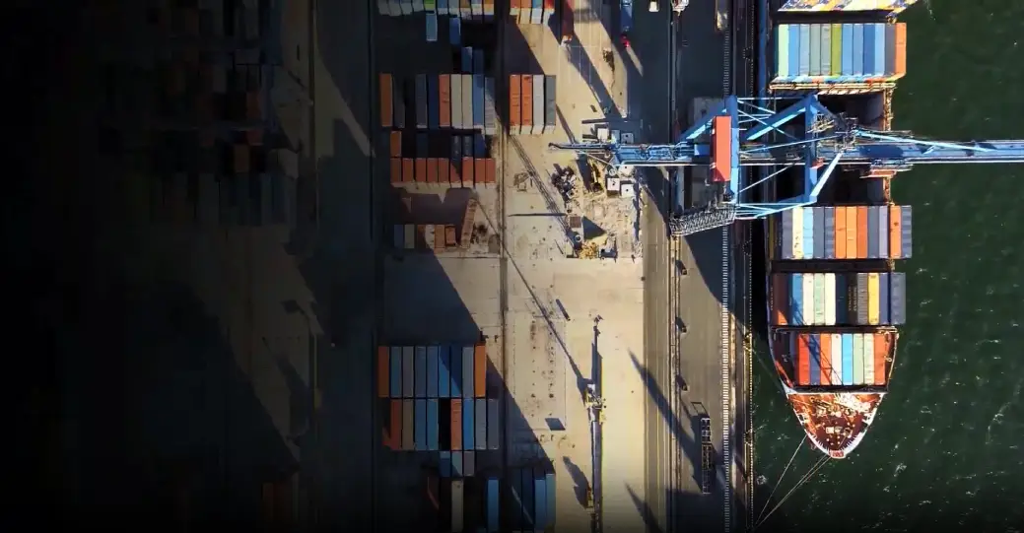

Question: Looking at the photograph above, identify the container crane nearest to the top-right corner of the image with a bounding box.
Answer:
[552,89,1024,237]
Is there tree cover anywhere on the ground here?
No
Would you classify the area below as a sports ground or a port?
port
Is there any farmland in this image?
No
